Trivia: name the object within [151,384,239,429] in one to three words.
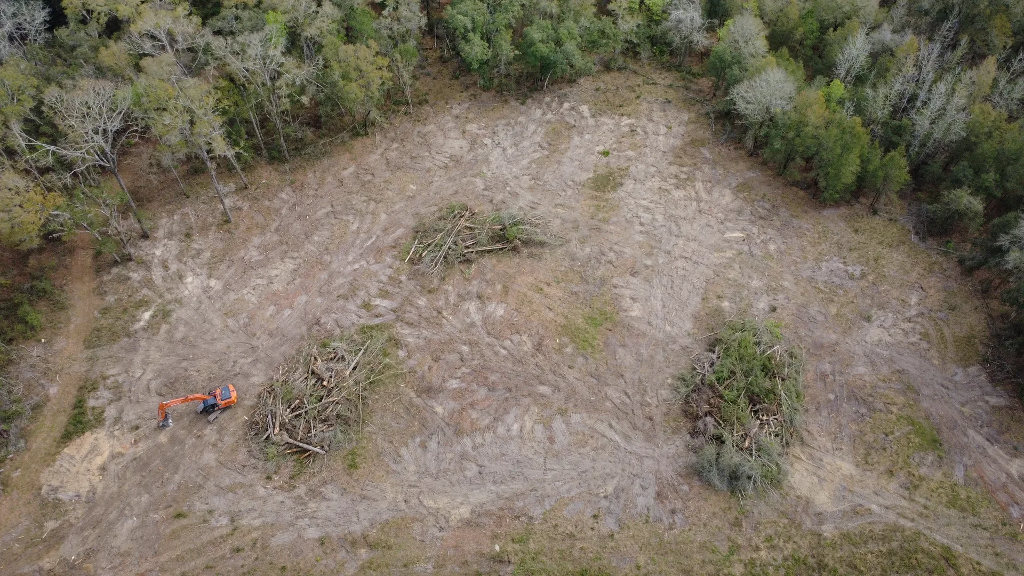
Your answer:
work vehicle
